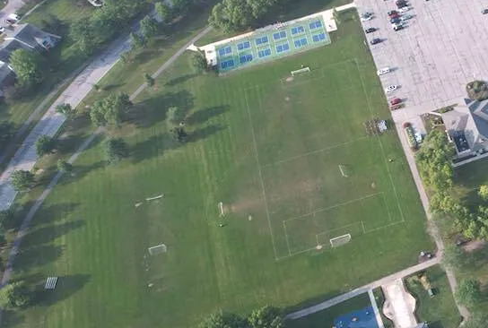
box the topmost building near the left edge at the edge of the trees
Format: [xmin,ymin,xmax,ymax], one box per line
[0,25,62,63]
